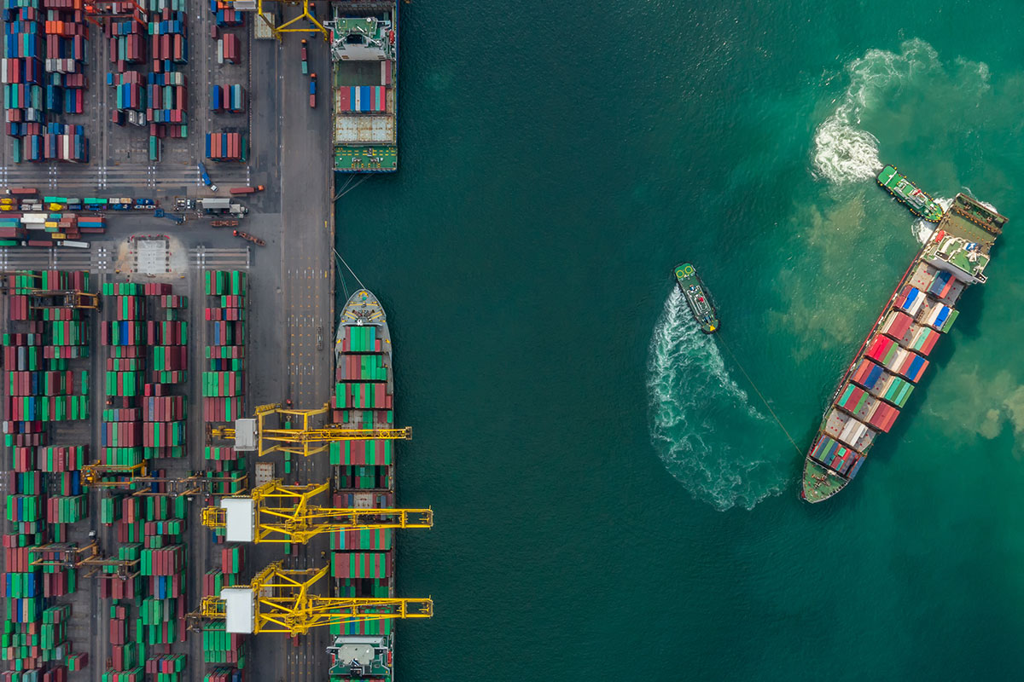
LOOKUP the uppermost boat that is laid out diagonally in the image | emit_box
[876,166,942,223]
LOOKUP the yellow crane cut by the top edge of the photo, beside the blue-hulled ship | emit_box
[223,0,330,48]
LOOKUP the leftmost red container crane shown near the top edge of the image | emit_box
[84,0,150,33]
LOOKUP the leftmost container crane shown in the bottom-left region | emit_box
[32,538,101,567]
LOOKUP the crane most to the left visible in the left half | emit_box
[0,270,42,294]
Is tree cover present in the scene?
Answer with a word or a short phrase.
No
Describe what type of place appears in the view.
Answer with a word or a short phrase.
port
